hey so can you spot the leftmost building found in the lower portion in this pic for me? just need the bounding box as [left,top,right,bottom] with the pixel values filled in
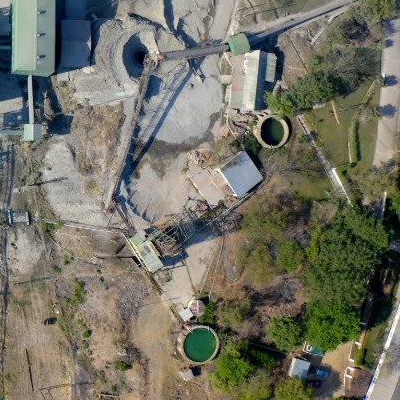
[124,226,164,274]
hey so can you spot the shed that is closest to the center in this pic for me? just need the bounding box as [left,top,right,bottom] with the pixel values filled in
[215,152,263,199]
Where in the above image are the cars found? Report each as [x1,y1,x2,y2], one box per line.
[315,369,331,378]
[309,379,324,388]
